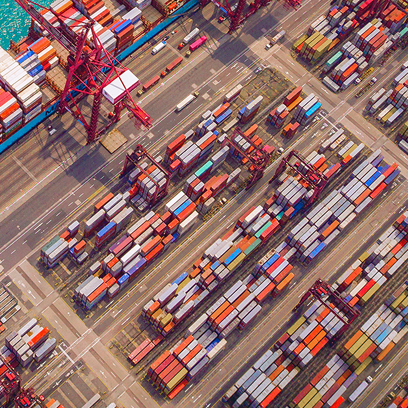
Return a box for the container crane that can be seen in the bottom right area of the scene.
[296,275,364,343]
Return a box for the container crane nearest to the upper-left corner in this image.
[10,0,154,146]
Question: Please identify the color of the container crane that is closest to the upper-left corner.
red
